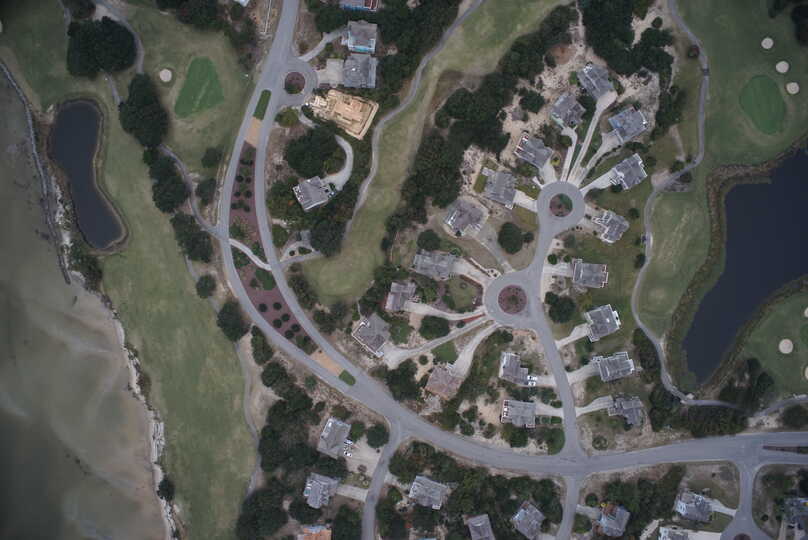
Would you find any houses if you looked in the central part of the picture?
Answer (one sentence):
Yes, a house can be seen in the central part of the picture.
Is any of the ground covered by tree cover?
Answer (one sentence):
Yes, there is tree cover in the image.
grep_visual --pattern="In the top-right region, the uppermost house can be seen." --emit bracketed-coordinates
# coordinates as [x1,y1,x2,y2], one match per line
[577,62,612,99]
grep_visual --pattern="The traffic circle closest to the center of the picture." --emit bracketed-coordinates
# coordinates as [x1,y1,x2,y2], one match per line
[485,272,540,328]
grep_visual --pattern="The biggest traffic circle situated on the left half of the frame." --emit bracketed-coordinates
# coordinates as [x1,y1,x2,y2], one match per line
[272,60,317,105]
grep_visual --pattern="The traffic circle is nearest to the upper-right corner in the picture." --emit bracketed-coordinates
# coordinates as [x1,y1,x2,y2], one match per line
[537,182,585,230]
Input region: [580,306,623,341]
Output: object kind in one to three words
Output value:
house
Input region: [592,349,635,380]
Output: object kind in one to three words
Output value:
house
